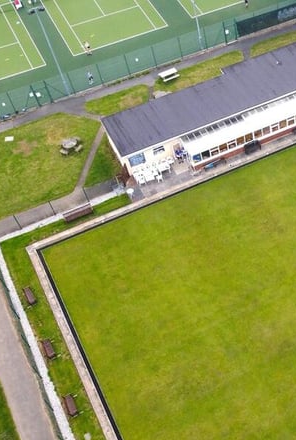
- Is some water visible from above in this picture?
No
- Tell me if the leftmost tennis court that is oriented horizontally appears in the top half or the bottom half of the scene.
top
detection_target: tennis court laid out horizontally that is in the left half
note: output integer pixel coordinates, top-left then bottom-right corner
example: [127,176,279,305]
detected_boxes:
[42,0,167,56]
